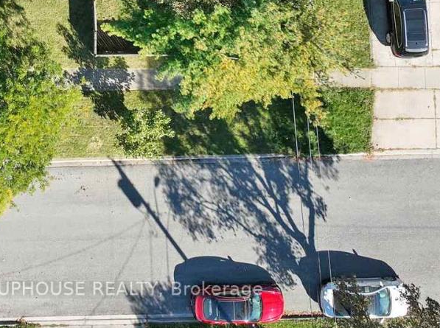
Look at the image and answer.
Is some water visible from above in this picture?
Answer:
No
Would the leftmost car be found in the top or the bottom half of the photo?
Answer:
bottom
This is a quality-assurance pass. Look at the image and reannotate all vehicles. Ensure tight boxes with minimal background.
[316,274,408,320]
[386,0,432,58]
[191,279,281,325]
